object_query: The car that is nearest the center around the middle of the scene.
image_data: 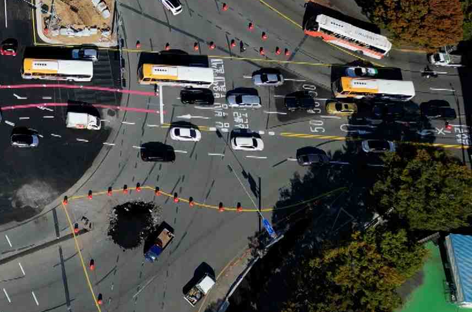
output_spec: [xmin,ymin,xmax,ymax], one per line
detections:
[231,137,264,152]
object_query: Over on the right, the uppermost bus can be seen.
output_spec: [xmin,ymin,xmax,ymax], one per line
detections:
[309,15,388,57]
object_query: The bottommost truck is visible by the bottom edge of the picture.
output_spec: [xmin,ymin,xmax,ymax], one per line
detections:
[183,274,218,308]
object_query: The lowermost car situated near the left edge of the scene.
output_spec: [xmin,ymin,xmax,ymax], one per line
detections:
[8,131,40,147]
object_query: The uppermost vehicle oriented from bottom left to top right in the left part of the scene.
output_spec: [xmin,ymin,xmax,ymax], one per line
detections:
[146,226,175,262]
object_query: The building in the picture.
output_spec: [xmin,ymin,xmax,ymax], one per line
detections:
[434,235,472,308]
